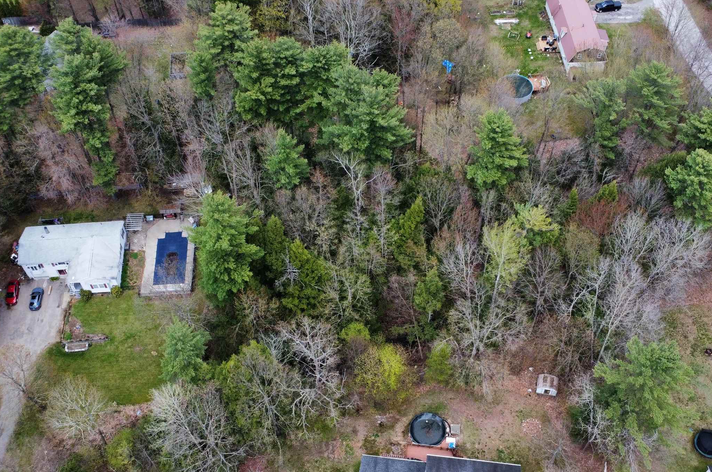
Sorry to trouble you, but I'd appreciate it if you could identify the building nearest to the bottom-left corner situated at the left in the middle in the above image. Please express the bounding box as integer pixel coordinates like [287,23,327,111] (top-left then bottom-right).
[16,220,135,309]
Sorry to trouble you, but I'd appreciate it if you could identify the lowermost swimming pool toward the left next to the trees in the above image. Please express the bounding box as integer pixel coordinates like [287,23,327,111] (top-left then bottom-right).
[140,218,196,298]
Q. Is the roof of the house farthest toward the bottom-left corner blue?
No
